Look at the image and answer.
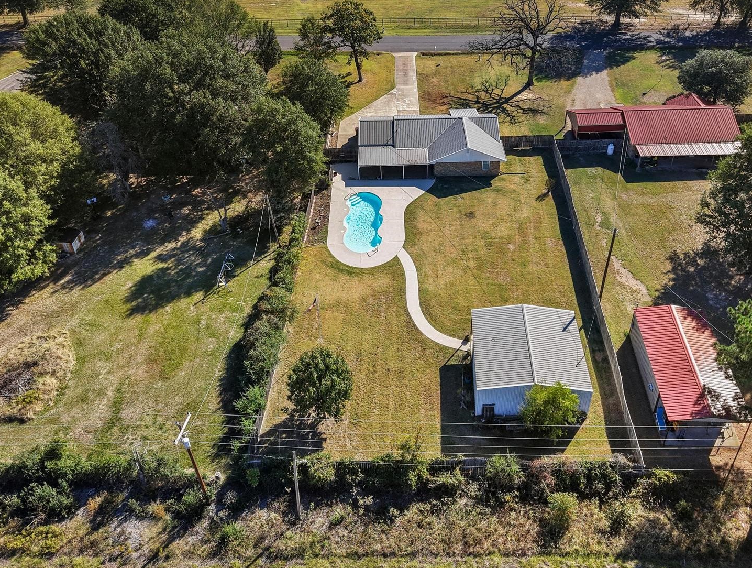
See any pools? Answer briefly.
Yes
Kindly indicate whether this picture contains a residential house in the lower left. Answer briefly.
No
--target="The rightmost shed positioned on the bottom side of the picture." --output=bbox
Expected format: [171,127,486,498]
[628,304,752,447]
